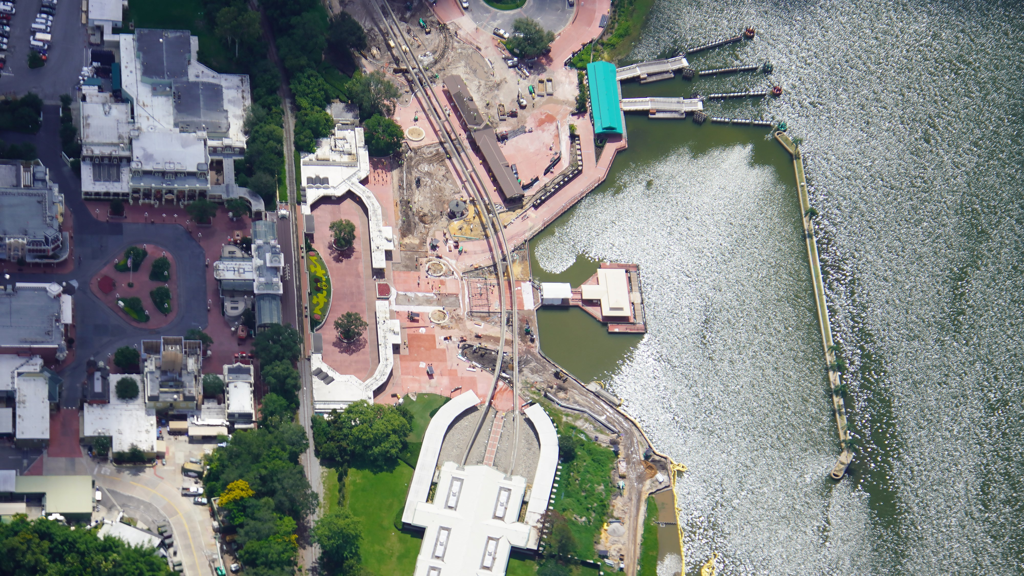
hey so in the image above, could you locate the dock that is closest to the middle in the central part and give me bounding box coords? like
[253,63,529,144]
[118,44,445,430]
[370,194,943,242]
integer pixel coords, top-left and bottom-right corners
[570,261,647,337]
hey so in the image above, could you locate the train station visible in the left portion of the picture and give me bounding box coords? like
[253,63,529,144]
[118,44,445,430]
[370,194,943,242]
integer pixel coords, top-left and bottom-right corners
[214,210,298,339]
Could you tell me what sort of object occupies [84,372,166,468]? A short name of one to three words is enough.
building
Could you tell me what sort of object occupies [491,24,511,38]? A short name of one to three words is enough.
vehicle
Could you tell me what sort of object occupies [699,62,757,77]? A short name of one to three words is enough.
pier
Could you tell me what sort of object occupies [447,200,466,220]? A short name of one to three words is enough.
gazebo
